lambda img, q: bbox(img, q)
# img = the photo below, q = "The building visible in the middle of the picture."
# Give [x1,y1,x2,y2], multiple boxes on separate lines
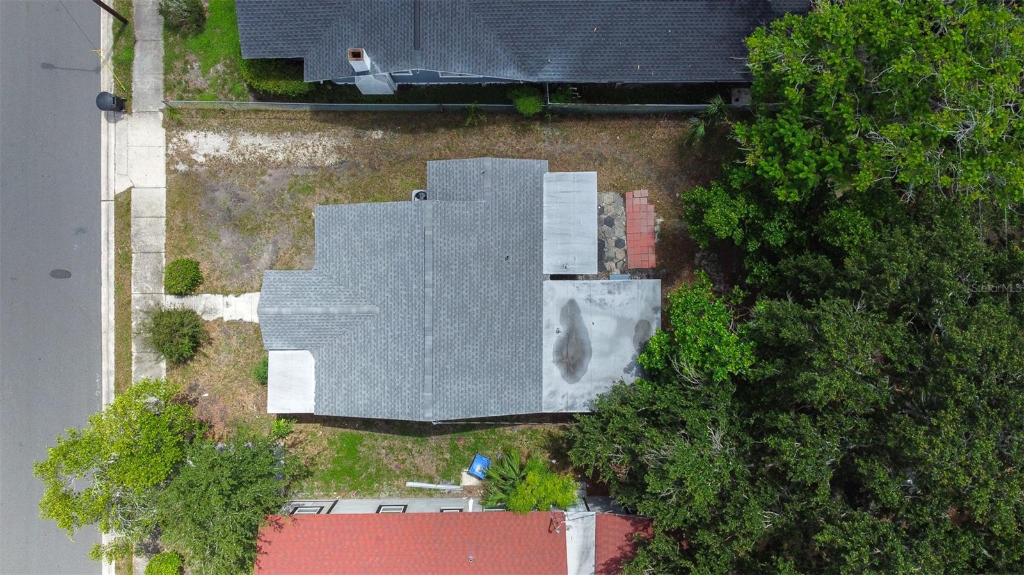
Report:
[256,157,661,426]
